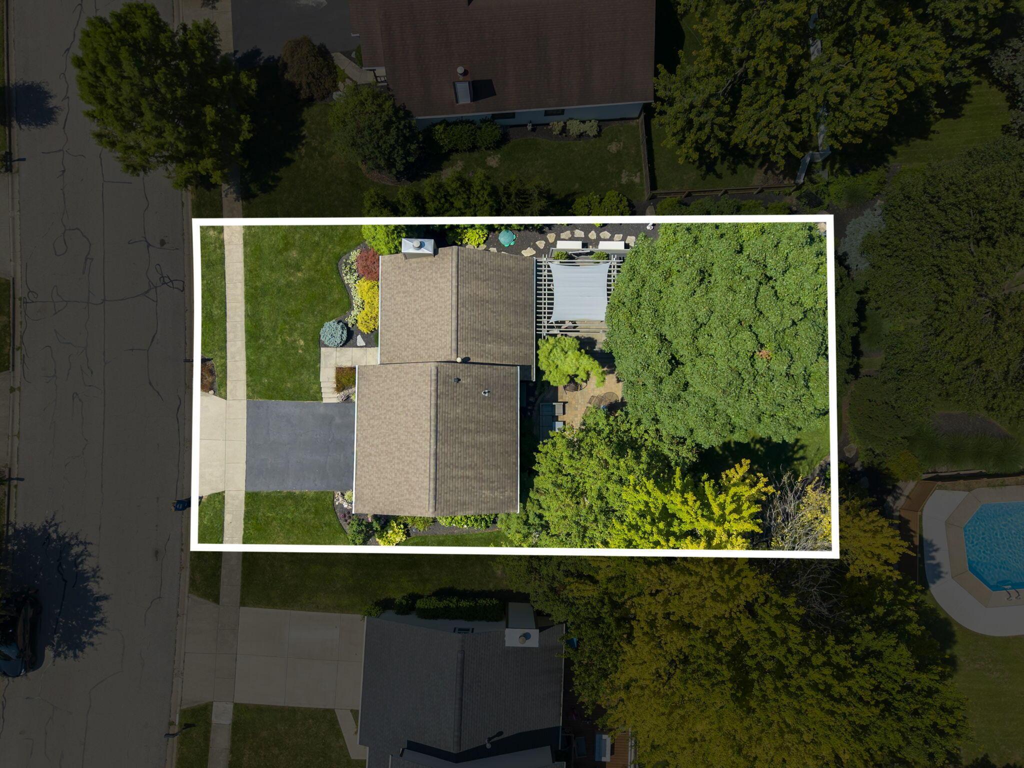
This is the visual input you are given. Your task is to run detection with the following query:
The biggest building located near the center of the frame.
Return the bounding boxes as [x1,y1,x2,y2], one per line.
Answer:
[351,239,536,518]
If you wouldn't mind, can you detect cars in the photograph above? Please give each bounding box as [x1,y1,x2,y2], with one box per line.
[0,589,41,670]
